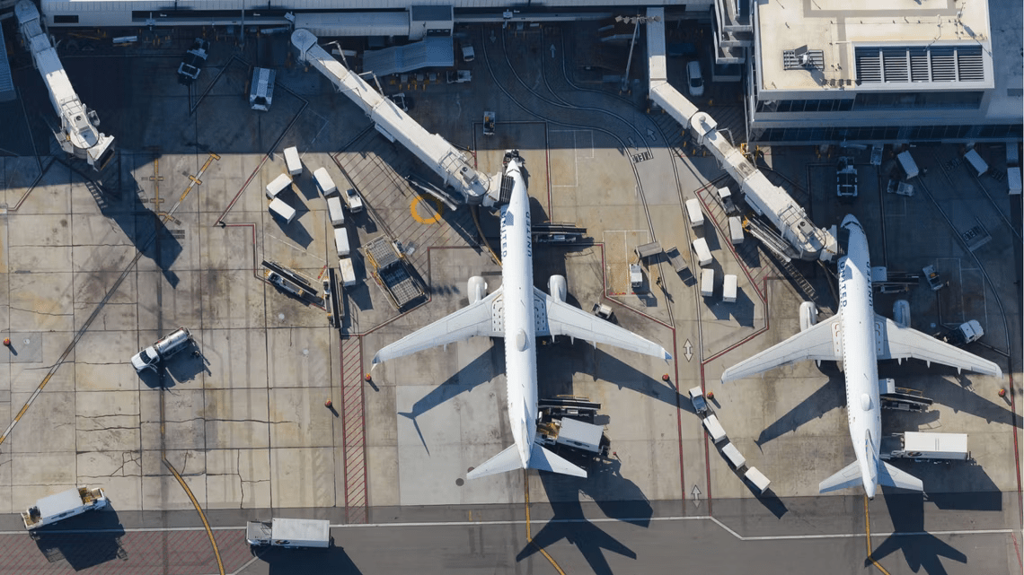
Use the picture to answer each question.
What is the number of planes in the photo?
two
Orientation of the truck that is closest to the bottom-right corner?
from left to right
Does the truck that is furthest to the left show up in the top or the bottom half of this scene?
bottom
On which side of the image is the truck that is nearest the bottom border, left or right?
left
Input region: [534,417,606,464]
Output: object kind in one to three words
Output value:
truck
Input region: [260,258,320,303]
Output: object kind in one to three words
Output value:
work vehicle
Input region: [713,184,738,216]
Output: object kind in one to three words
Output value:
work vehicle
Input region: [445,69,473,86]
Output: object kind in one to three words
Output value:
vehicle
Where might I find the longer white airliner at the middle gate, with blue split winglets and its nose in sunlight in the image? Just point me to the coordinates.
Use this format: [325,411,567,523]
[370,159,674,479]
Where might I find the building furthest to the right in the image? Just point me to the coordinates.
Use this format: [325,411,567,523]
[738,0,1024,168]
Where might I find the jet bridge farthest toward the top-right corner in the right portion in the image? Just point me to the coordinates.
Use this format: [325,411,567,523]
[686,109,848,304]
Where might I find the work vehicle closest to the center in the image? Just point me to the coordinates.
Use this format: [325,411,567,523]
[533,228,586,256]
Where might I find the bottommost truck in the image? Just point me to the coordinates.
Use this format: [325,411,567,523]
[243,519,335,555]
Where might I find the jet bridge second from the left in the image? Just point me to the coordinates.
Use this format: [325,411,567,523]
[291,29,511,237]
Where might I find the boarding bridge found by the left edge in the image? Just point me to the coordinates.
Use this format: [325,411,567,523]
[12,0,117,170]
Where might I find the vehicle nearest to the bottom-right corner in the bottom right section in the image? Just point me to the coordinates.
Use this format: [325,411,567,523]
[880,432,970,467]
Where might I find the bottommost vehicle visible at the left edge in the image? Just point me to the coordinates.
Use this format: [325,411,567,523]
[13,484,108,534]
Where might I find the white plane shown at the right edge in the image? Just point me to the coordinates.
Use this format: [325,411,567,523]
[721,214,1006,501]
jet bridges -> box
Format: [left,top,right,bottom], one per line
[686,109,848,304]
[291,29,511,237]
[12,0,117,170]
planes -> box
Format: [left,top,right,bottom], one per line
[721,214,1006,501]
[370,159,674,479]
